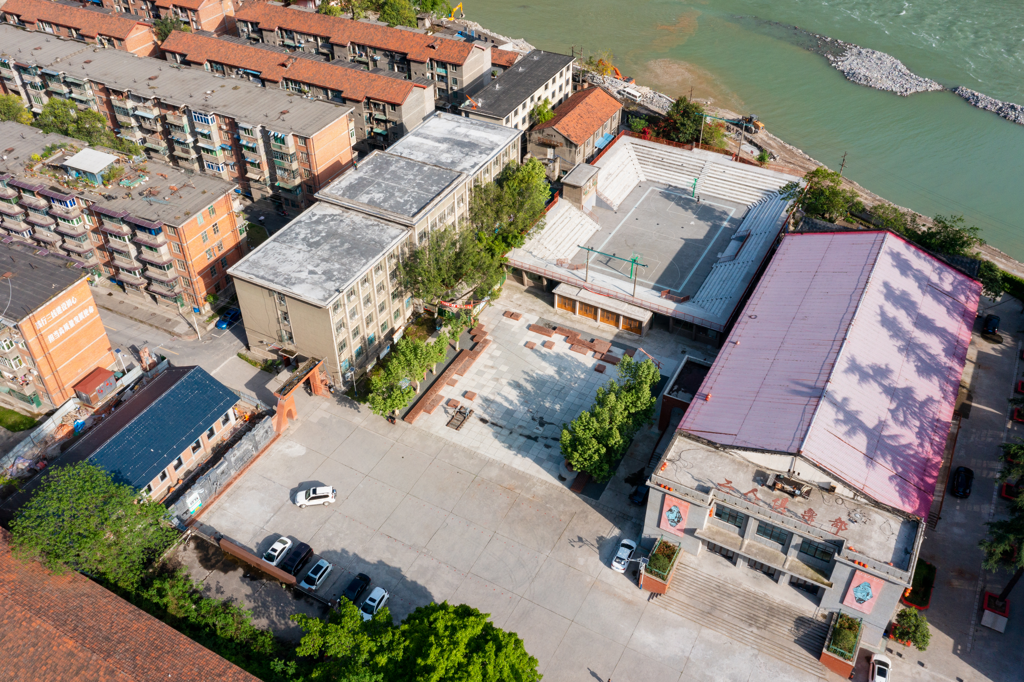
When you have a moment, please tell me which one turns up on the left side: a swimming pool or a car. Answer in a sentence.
There is a car on the left side.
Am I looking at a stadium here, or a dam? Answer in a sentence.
The image shows a stadium.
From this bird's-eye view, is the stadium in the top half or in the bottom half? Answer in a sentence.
Seen from above, the stadium lies in the top half of the view.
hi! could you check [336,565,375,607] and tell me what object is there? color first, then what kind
black car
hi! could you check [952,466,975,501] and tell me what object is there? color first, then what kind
black car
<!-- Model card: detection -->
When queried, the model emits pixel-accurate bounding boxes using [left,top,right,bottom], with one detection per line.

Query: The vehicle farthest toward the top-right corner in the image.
[734,115,769,136]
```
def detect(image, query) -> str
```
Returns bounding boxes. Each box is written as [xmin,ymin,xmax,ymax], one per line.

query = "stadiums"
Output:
[503,131,810,346]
